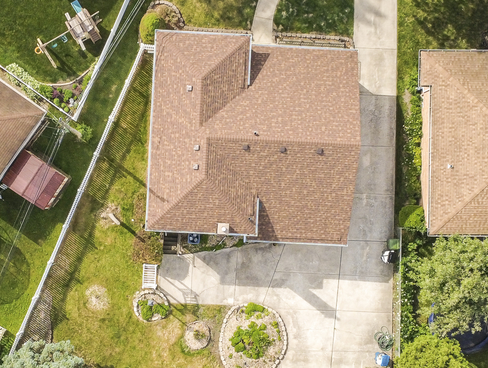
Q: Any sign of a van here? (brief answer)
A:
No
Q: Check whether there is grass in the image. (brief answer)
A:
Yes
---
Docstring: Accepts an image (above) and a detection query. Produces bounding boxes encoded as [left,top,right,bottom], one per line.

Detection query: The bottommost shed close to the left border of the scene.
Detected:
[2,150,71,210]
